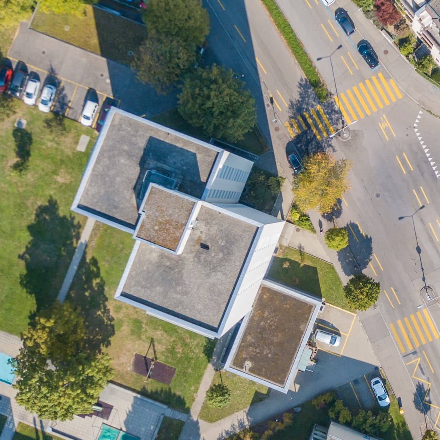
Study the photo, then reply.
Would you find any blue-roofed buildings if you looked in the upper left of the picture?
No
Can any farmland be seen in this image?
No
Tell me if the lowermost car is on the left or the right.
right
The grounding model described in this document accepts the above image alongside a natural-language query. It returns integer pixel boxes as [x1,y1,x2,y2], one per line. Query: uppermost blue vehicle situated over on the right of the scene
[334,6,356,37]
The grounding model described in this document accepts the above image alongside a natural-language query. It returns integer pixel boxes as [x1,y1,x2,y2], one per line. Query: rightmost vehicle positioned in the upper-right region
[356,38,381,71]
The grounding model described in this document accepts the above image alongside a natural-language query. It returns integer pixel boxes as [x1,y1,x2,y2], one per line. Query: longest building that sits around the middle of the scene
[71,108,323,394]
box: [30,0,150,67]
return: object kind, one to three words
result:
building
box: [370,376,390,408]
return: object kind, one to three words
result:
car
